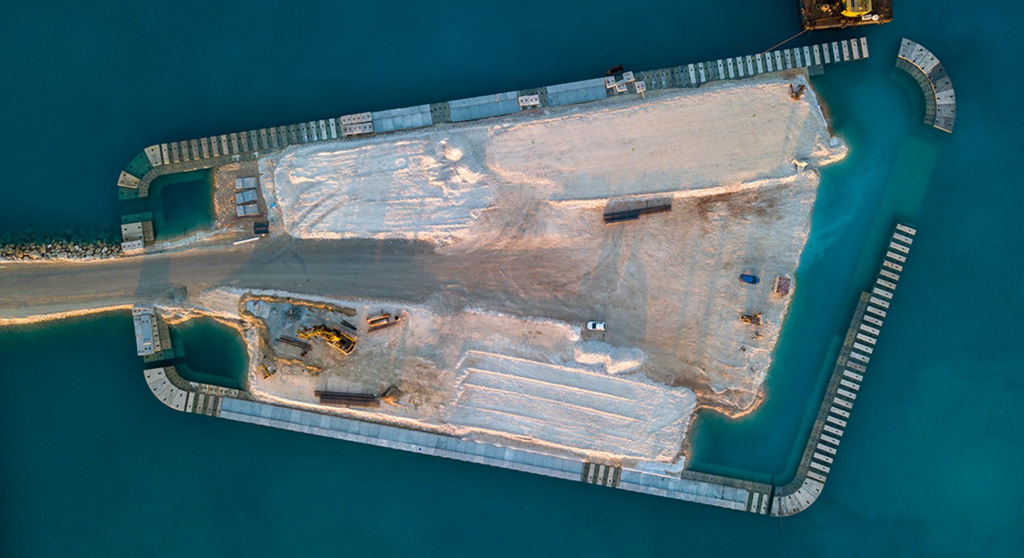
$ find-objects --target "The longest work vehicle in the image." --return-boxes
[293,324,356,357]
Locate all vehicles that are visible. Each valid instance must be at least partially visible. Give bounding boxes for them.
[741,315,762,325]
[293,324,356,357]
[741,274,761,284]
[587,321,606,330]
